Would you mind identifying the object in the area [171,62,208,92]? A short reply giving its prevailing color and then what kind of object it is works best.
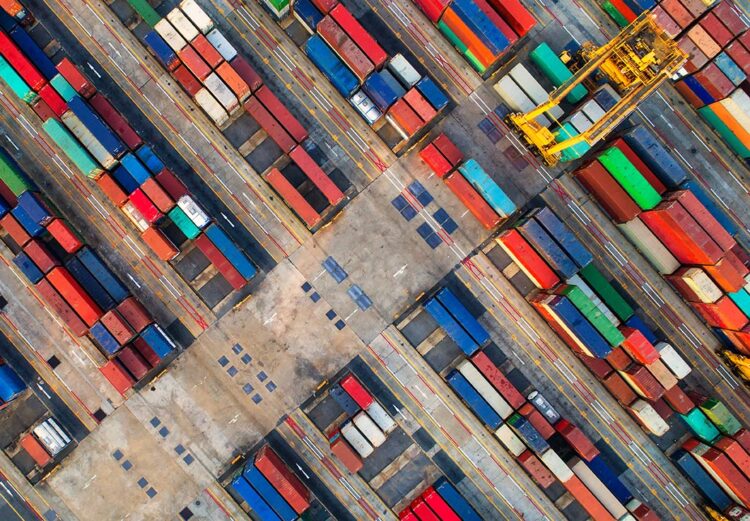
red shipping container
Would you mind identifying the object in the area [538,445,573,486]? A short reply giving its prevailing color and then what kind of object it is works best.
white shipping container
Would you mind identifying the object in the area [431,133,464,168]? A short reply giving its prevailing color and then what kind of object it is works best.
red shipping container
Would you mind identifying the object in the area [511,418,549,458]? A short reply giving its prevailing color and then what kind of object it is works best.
blue shipping container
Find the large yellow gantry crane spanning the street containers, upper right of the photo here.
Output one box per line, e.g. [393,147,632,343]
[505,4,694,165]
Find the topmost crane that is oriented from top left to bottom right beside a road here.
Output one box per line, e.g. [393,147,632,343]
[715,346,750,390]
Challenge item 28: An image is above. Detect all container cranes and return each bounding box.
[715,346,750,390]
[505,4,694,165]
[702,502,724,521]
